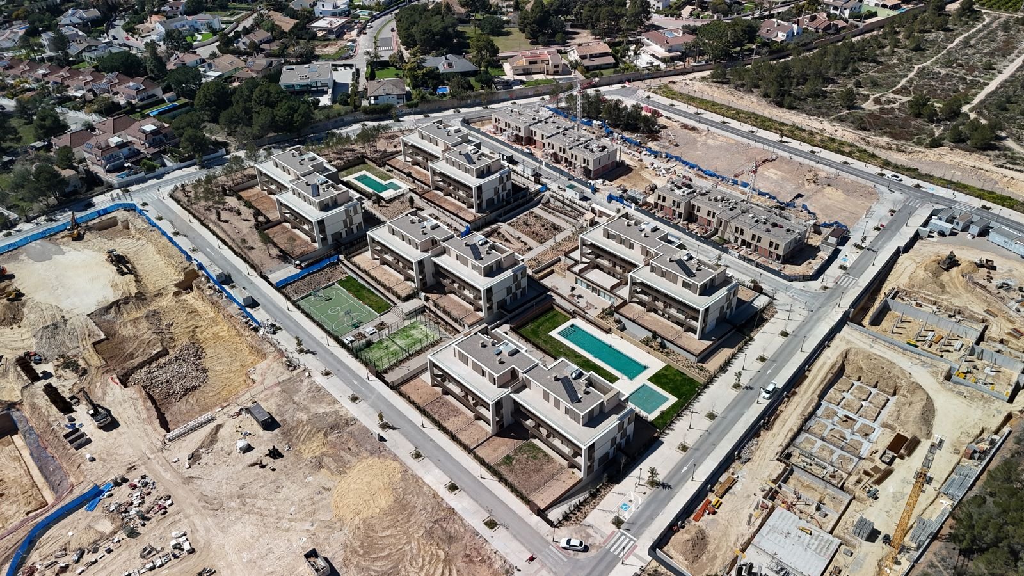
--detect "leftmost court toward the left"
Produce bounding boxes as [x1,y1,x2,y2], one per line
[299,283,380,336]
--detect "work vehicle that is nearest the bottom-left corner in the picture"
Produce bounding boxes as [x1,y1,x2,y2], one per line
[81,388,112,426]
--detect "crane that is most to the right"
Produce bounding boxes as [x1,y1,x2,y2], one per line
[873,431,946,576]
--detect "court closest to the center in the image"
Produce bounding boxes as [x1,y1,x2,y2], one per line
[356,307,441,369]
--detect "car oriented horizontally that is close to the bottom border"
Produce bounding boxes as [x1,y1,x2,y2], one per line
[560,538,584,551]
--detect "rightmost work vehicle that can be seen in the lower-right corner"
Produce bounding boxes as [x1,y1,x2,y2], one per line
[865,478,886,500]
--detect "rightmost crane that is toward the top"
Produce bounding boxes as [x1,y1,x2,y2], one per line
[680,149,773,202]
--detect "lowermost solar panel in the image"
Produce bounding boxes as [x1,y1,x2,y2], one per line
[558,377,582,400]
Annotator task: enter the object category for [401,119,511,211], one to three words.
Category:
building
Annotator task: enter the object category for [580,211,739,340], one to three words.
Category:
building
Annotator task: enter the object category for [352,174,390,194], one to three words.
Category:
swimming pool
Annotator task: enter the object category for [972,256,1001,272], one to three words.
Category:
work vehicle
